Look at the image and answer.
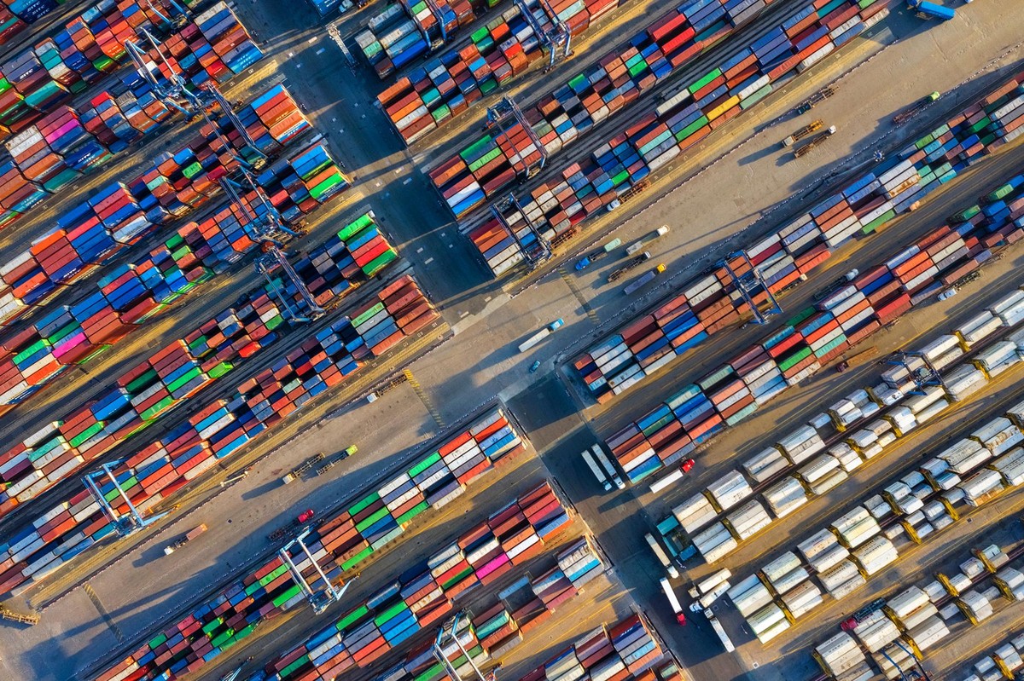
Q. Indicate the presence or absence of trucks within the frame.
Yes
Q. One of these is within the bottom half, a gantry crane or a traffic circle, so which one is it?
gantry crane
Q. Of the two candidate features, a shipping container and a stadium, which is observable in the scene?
shipping container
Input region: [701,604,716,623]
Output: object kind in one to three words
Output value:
vehicle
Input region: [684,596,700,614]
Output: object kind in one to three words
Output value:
vehicle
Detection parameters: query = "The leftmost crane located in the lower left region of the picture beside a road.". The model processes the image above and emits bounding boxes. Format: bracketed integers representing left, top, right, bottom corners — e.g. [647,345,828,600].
[81,449,180,541]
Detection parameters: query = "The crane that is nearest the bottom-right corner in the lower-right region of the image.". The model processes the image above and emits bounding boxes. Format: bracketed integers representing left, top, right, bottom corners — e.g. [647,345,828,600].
[862,636,932,681]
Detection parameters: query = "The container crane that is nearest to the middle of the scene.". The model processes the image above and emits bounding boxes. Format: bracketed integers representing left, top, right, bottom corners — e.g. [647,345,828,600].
[488,188,556,277]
